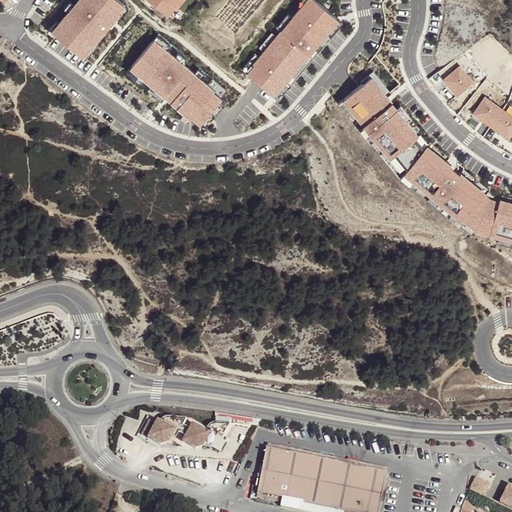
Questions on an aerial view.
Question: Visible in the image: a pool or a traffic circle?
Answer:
traffic circle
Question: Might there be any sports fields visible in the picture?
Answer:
No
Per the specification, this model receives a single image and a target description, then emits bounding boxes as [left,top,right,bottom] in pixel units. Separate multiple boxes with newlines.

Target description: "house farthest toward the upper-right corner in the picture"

[434,66,474,96]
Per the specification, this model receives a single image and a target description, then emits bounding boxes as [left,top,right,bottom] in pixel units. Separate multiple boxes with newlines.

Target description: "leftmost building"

[52,0,126,60]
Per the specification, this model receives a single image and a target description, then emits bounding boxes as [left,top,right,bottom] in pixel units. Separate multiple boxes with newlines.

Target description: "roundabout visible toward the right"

[474,280,512,384]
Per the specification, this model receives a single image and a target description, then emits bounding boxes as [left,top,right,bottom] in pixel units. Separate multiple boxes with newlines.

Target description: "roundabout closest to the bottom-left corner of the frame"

[52,348,124,420]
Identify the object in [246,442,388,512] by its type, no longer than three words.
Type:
building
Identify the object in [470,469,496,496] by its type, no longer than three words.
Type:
house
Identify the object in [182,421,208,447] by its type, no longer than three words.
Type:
house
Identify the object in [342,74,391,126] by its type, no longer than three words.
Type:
building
